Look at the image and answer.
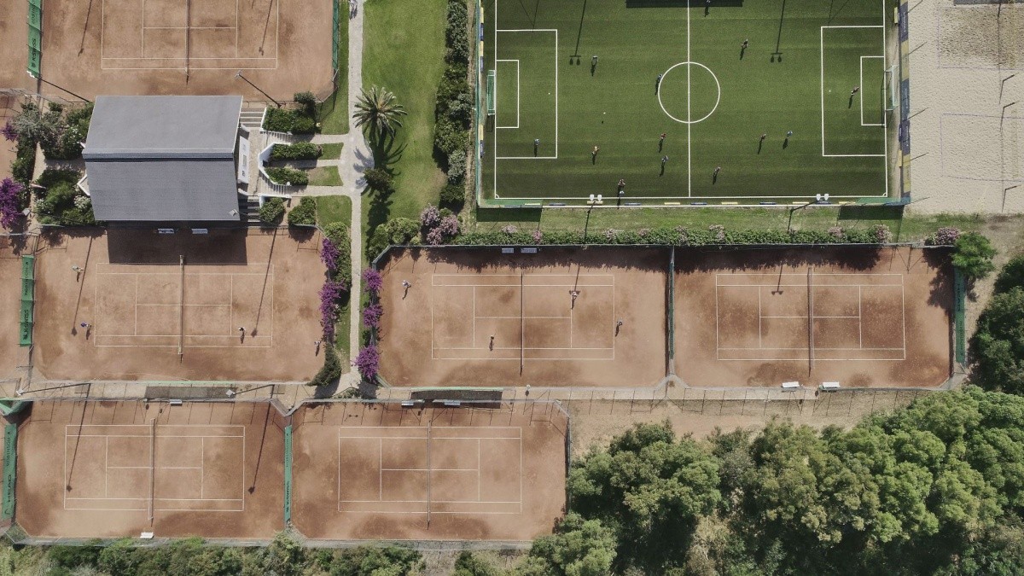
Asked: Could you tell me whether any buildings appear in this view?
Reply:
Yes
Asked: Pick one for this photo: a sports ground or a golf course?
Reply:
sports ground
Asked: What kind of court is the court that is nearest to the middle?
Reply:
tennis court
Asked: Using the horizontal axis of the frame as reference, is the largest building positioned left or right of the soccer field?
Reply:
left of it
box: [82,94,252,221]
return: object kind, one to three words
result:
building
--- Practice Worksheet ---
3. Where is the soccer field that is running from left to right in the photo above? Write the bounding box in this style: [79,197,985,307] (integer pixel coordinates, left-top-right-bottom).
[477,0,899,205]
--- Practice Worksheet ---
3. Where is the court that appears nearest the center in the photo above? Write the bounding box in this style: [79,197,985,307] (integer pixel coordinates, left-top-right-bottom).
[375,249,669,388]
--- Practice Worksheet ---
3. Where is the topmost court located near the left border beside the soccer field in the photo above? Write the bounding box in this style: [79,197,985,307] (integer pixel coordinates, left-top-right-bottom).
[40,0,339,100]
